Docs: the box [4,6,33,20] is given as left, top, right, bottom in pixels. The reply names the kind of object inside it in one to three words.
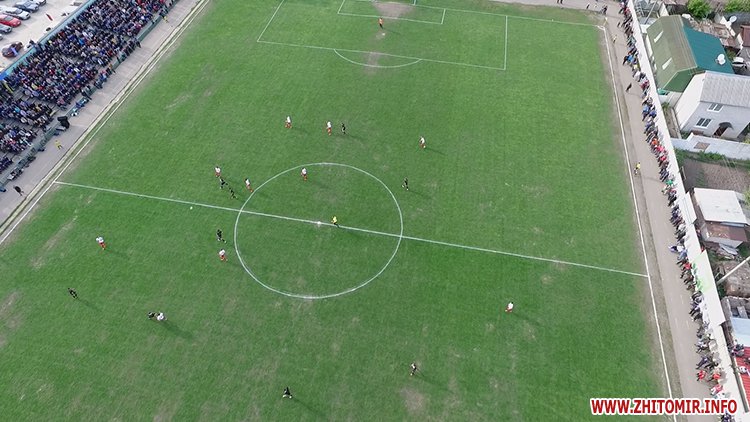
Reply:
vehicle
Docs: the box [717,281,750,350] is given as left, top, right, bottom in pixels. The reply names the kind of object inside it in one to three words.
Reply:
shed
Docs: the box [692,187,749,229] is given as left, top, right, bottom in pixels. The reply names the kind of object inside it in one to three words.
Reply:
shed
